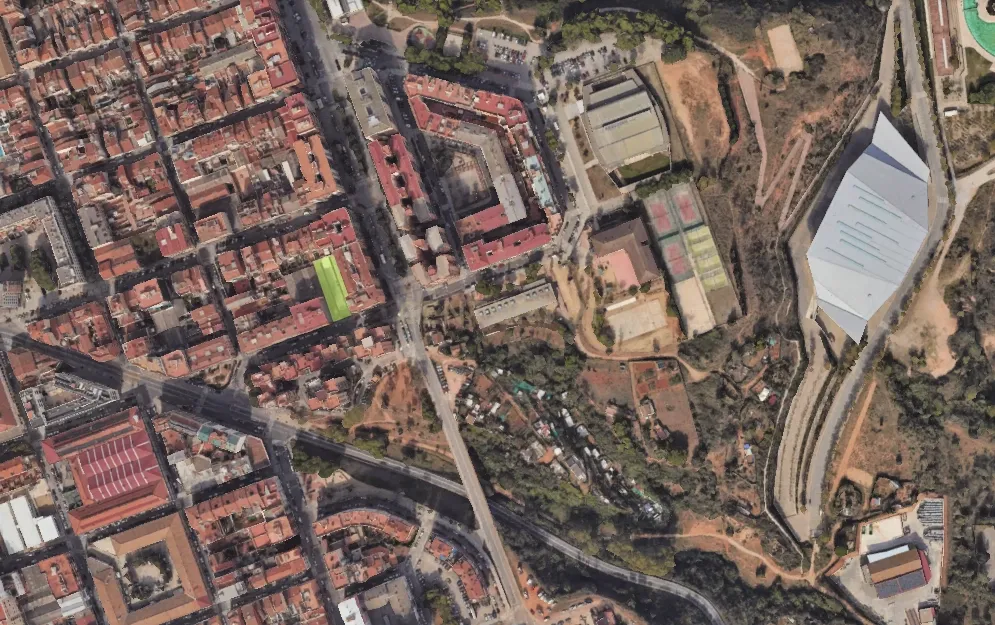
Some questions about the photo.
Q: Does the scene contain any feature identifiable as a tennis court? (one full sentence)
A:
Yes, the frame does contain a tennis court.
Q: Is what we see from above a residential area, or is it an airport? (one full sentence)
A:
What you see here is a residential area.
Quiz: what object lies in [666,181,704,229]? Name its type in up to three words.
tennis court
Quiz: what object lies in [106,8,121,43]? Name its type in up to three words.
house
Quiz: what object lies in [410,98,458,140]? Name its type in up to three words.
building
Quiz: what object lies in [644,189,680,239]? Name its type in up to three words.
tennis court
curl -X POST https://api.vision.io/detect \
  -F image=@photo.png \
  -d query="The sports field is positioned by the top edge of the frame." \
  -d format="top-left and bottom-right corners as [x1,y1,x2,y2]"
[769,25,803,77]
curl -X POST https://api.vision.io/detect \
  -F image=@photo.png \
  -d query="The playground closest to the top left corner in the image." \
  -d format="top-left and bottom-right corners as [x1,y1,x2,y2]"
[409,24,432,51]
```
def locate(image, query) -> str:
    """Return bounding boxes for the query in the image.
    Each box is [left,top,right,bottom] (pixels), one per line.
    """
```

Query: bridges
[394,294,533,625]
